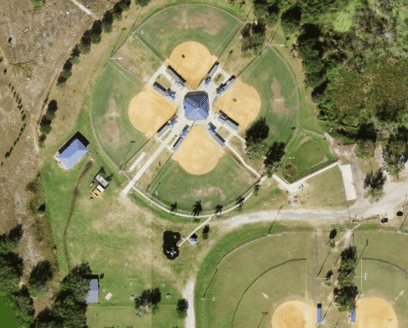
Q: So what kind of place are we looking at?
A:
sports ground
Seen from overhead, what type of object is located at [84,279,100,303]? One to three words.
shed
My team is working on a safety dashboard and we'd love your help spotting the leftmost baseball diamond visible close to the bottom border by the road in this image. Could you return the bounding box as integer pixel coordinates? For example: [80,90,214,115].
[203,232,316,328]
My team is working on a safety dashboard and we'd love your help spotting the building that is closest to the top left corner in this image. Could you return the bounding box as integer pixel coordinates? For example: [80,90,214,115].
[51,136,87,170]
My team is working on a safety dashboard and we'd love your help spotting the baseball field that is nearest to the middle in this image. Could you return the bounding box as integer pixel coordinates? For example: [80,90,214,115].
[137,129,260,215]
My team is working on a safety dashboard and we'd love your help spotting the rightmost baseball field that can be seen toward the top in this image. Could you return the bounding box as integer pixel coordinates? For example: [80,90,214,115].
[212,46,299,169]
